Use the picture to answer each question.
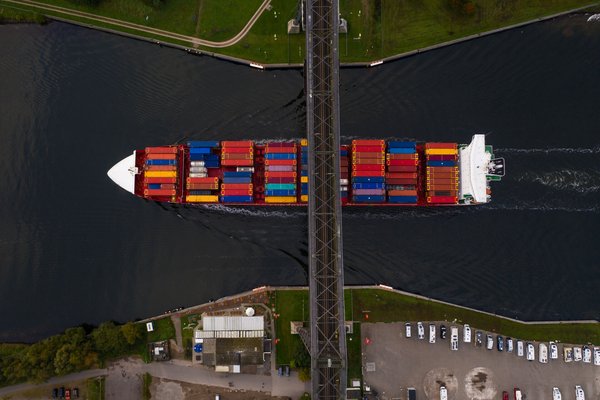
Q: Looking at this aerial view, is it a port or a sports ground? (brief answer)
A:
port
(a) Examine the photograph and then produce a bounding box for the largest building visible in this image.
[196,314,272,374]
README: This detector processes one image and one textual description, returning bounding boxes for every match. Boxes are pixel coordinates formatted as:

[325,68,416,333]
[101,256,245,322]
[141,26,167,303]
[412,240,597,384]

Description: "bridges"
[288,0,355,400]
